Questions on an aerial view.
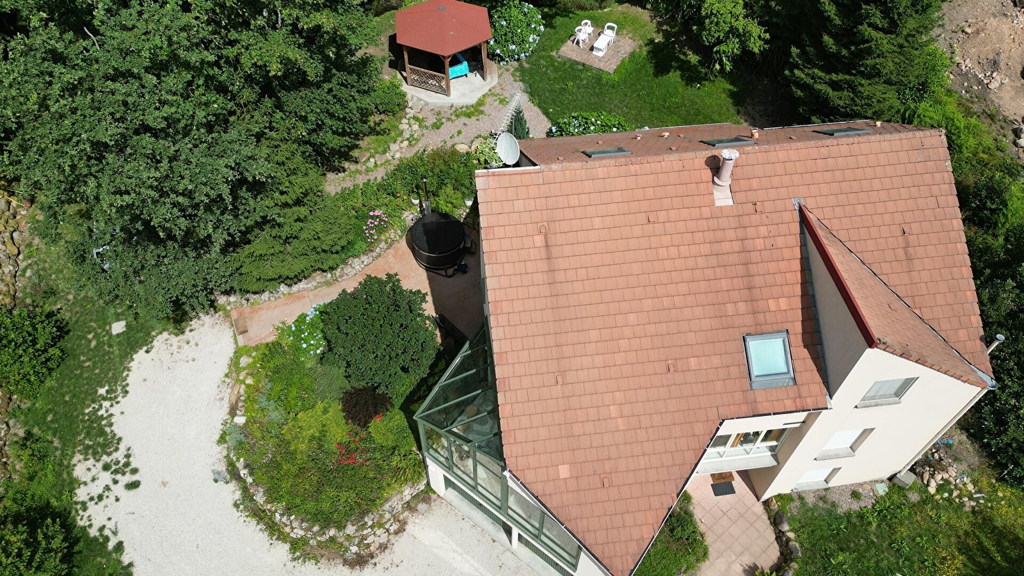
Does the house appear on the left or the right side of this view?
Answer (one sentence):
The house is on the right side of the image.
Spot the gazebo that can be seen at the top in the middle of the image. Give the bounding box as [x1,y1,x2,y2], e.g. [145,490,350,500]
[395,0,492,93]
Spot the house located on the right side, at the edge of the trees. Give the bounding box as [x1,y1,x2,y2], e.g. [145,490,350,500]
[412,116,1012,576]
